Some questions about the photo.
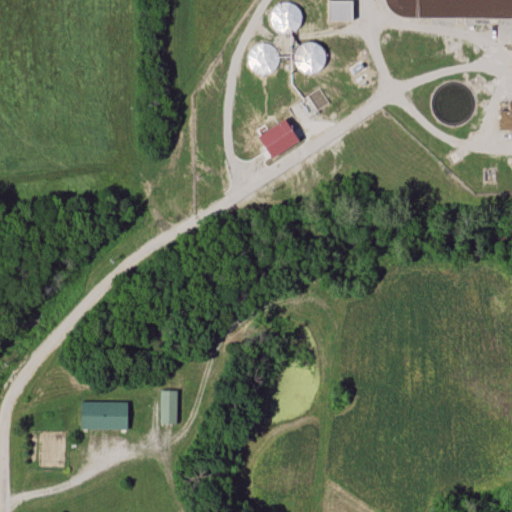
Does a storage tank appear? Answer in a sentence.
Yes, there's a storage tank here.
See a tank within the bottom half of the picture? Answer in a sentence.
No, there's no tank to be seen within the bottom half of the picture.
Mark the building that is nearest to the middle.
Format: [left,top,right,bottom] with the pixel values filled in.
[260,120,300,157]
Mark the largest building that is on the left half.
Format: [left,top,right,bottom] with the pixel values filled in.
[81,402,128,431]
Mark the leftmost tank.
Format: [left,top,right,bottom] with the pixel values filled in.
[247,43,280,76]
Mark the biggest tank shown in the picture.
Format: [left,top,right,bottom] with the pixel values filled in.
[430,80,478,128]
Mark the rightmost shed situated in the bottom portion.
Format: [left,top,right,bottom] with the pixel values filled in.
[160,390,178,426]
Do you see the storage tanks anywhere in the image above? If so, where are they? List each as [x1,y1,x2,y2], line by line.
[294,42,328,75]
[270,0,303,34]
[247,43,280,76]
[430,80,478,128]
